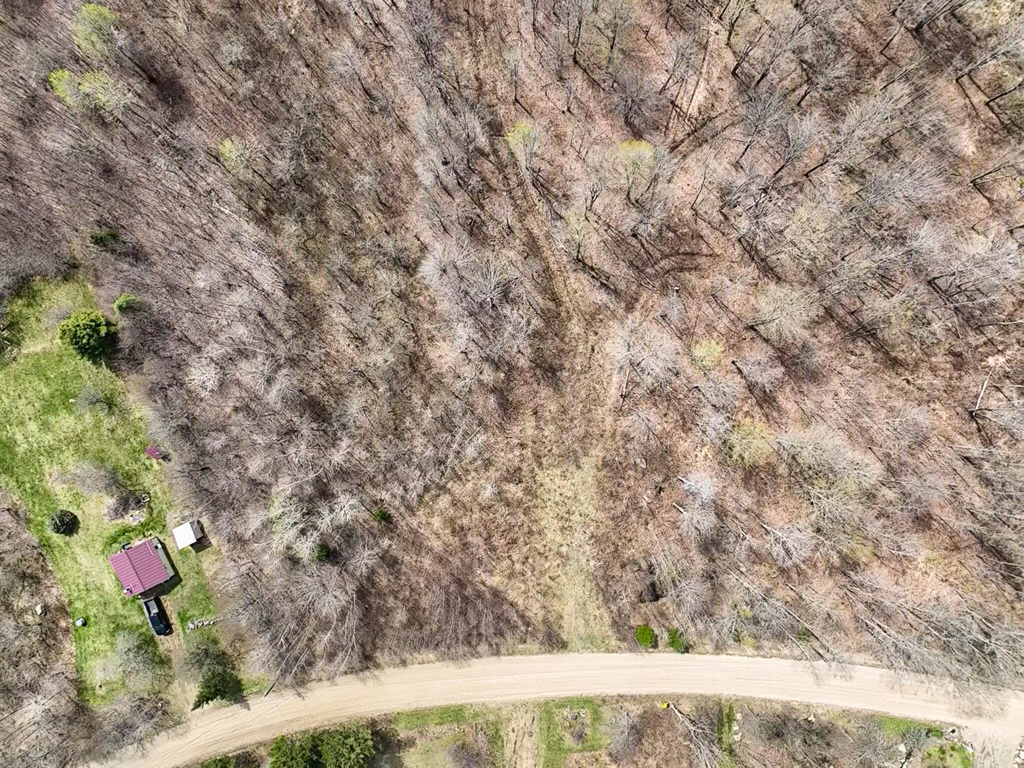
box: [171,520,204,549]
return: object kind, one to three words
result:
shed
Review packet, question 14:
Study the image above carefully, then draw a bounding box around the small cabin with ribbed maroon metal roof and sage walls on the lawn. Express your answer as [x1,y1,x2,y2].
[111,539,174,595]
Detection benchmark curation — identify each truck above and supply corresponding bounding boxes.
[141,594,171,637]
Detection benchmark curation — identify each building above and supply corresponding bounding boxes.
[146,445,168,461]
[111,539,174,595]
[171,520,204,549]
